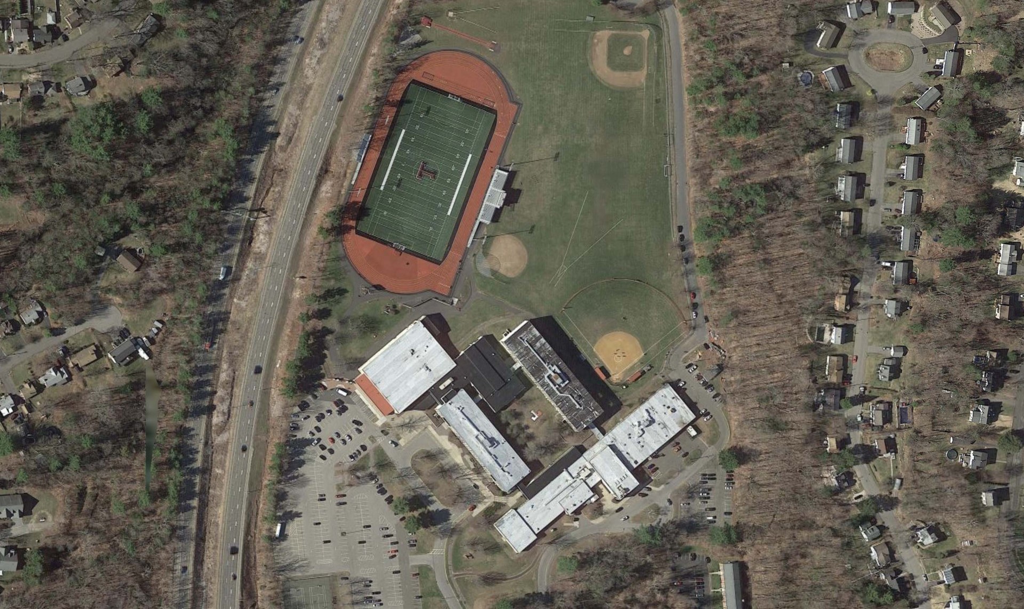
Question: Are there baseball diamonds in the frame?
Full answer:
Yes, there is a baseball diamond in the image.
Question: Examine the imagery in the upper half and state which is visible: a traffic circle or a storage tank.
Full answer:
What appears in the upper half is a traffic circle.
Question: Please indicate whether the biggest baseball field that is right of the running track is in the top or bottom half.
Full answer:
It is in the top half that the biggest baseball field that is right of the running track appears.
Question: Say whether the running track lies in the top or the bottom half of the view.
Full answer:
The top half of the photo is where the running track is.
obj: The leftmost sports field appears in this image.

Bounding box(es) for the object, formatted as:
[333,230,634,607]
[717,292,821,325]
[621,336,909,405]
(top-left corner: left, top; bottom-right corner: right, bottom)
[354,80,497,264]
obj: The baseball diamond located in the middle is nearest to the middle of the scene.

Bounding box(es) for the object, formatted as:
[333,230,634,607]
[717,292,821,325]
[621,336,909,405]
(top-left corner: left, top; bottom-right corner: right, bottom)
[476,236,527,278]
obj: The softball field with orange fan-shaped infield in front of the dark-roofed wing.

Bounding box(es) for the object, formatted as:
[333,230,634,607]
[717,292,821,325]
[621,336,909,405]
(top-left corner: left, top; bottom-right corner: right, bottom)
[558,278,685,382]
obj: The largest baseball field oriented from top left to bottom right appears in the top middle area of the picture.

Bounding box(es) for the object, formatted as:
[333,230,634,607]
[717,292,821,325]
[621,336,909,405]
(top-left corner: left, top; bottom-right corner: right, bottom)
[555,20,655,126]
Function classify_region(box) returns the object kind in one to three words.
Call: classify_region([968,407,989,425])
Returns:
house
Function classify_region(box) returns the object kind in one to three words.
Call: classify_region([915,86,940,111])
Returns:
house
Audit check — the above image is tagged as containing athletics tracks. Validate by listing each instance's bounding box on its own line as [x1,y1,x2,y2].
[336,47,524,301]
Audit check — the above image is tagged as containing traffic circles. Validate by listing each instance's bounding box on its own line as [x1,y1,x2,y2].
[848,30,928,95]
